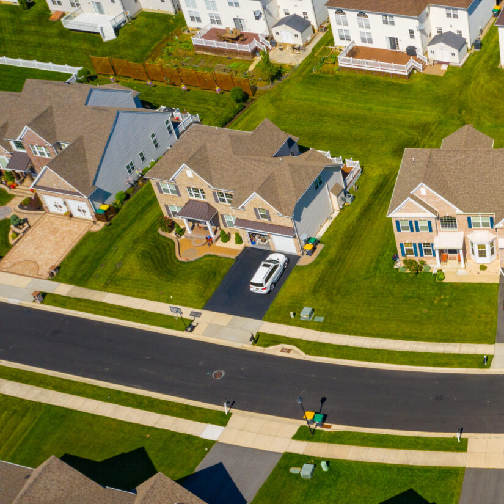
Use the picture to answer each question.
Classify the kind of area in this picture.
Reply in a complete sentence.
The picture captures a residential area.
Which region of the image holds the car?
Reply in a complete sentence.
The car sits in the center section of the image.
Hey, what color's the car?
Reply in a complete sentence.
The color of the car is white.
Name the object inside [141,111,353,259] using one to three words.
house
